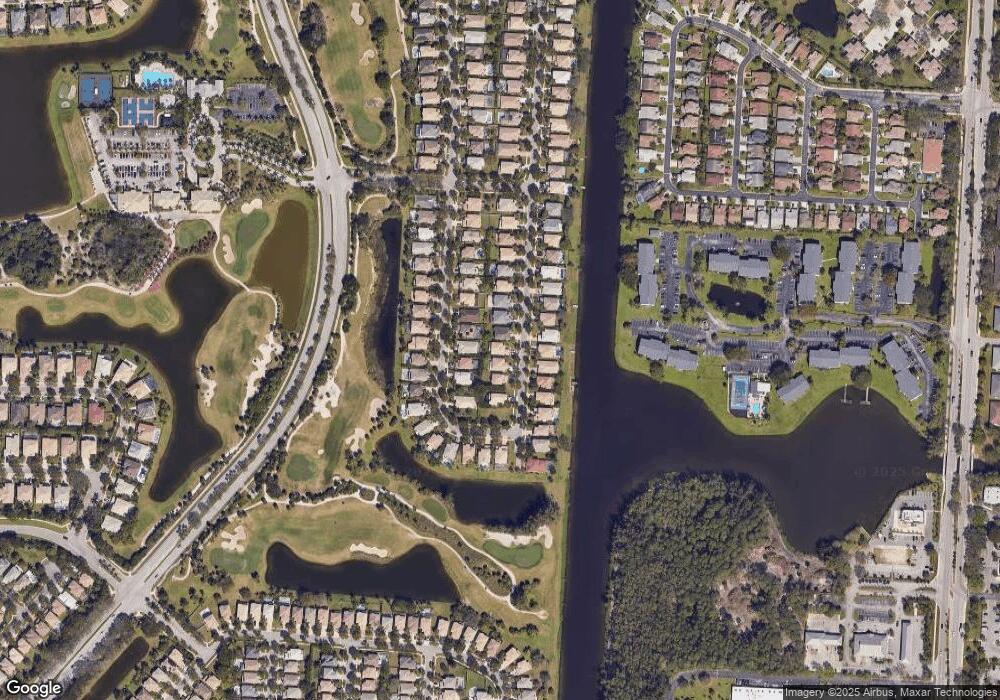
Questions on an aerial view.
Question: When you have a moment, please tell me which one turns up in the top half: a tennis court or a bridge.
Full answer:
What appears in the top half is a tennis court.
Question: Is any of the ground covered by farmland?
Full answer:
No, no farmland is visible.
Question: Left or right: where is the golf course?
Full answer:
The golf course is on the left side of the image.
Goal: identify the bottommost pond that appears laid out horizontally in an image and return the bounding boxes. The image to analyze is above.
[265,542,459,602]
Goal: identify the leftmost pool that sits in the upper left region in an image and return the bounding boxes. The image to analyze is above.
[135,62,184,90]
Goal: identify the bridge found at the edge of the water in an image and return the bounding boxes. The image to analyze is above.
[942,453,974,477]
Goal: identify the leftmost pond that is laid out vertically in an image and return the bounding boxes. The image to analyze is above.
[250,201,308,331]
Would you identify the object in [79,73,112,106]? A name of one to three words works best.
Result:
tennis court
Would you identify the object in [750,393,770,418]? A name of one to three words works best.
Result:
swimming pool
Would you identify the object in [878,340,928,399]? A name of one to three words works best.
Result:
building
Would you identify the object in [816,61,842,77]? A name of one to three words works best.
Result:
swimming pool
